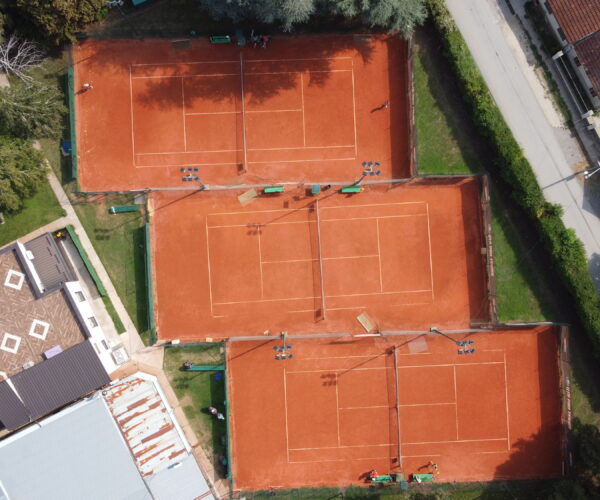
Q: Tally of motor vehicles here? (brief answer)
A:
0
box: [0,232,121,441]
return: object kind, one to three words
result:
building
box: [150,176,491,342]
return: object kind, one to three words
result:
tennis court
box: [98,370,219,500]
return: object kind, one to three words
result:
shed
